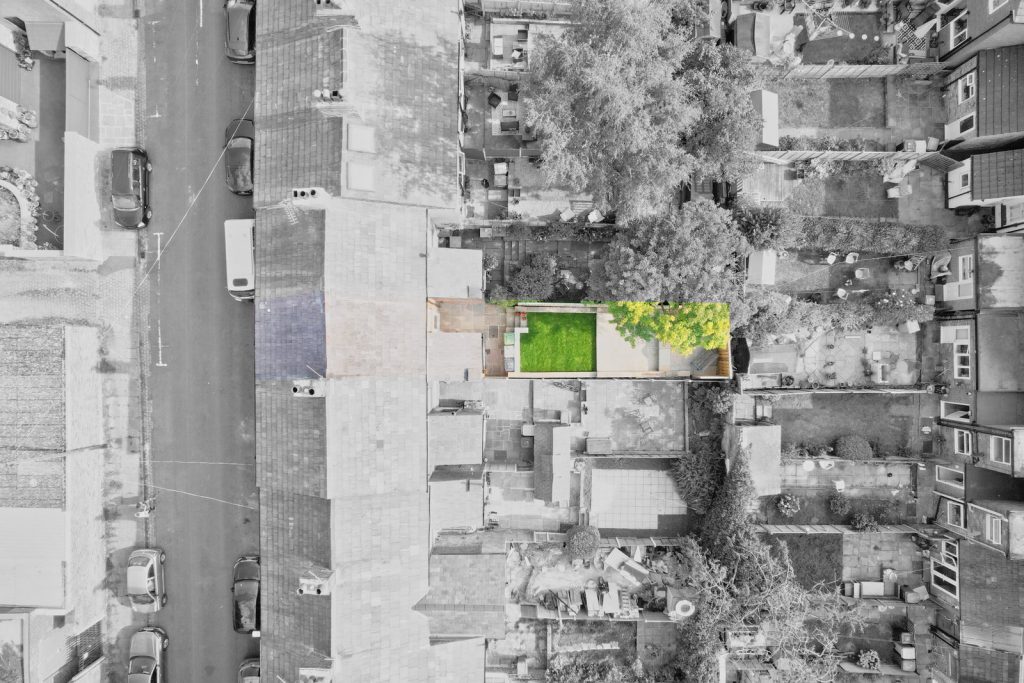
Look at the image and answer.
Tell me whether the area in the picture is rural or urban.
urban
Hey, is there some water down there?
No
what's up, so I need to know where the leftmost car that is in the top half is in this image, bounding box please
[106,148,151,228]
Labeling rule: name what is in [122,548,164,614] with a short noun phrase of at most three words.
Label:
car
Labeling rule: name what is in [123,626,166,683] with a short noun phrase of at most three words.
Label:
car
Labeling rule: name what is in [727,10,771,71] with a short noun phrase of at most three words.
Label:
shed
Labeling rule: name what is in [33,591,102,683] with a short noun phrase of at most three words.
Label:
building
